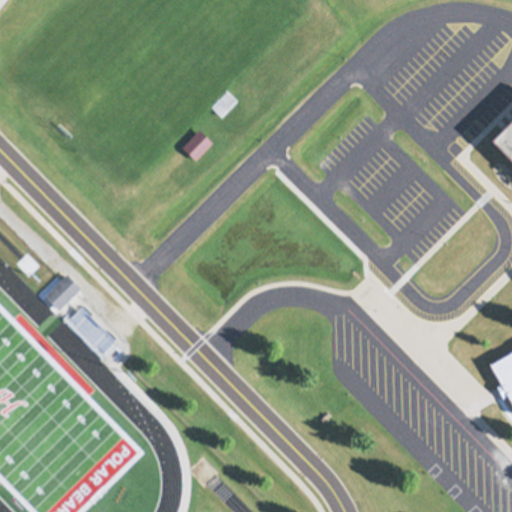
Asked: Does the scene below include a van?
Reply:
No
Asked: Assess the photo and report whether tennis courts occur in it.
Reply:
No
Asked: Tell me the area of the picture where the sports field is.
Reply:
bottom left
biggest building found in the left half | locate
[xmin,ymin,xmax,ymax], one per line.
[38,275,80,310]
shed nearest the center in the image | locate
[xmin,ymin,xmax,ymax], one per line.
[184,131,213,162]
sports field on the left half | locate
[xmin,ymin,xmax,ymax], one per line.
[0,286,160,512]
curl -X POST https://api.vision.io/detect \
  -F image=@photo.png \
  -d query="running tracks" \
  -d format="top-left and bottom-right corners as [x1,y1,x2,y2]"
[0,255,182,512]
